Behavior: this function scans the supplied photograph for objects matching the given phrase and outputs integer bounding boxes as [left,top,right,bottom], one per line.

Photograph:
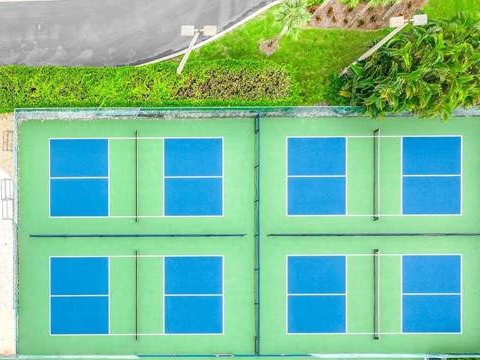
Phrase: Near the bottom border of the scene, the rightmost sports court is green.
[255,236,480,355]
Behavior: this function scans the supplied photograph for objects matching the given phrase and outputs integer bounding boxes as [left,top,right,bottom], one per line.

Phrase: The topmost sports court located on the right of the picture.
[255,117,480,236]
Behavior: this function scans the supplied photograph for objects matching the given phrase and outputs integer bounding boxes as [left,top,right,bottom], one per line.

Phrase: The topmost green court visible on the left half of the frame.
[18,117,255,236]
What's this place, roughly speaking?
sports ground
